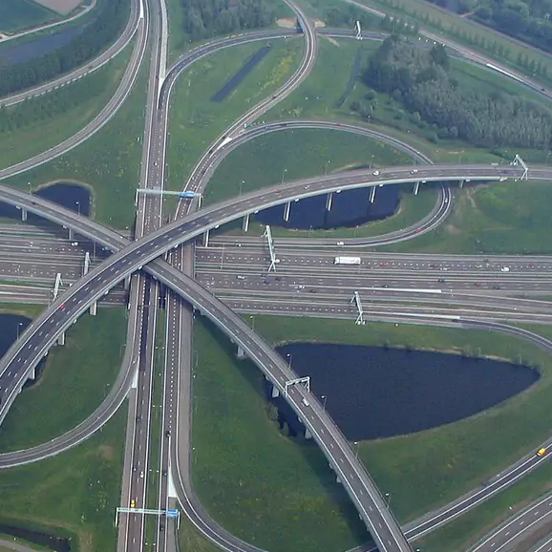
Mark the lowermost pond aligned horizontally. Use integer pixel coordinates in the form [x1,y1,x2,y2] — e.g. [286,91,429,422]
[264,343,540,442]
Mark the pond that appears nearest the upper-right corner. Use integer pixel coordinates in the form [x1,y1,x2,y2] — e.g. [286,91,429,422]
[251,165,401,231]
